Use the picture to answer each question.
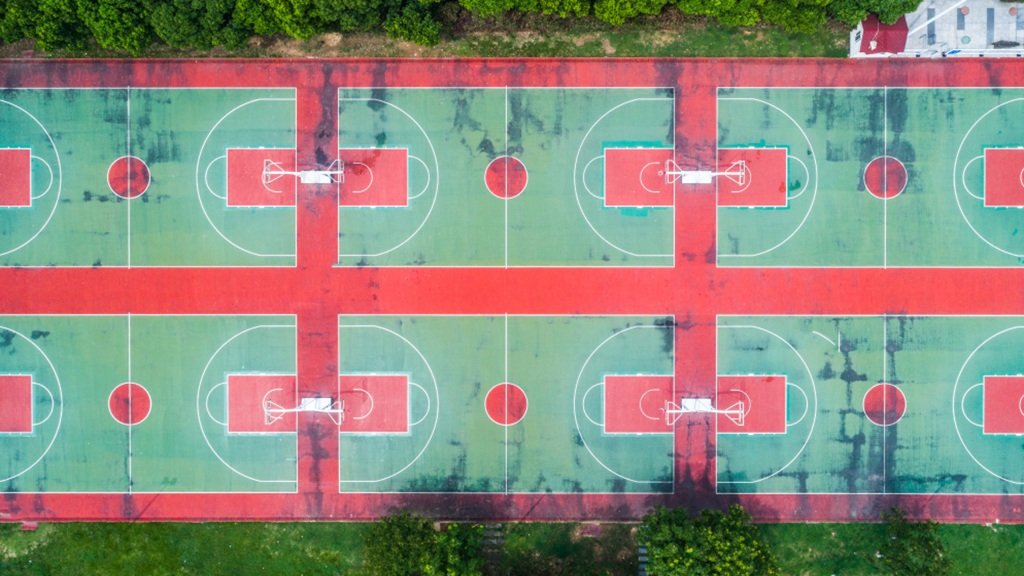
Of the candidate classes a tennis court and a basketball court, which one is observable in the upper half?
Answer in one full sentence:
The one visible in the upper half is a basketball court.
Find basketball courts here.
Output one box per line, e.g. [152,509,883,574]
[717,87,1024,268]
[0,86,297,268]
[716,315,1024,495]
[338,313,675,495]
[331,86,675,268]
[0,313,297,494]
